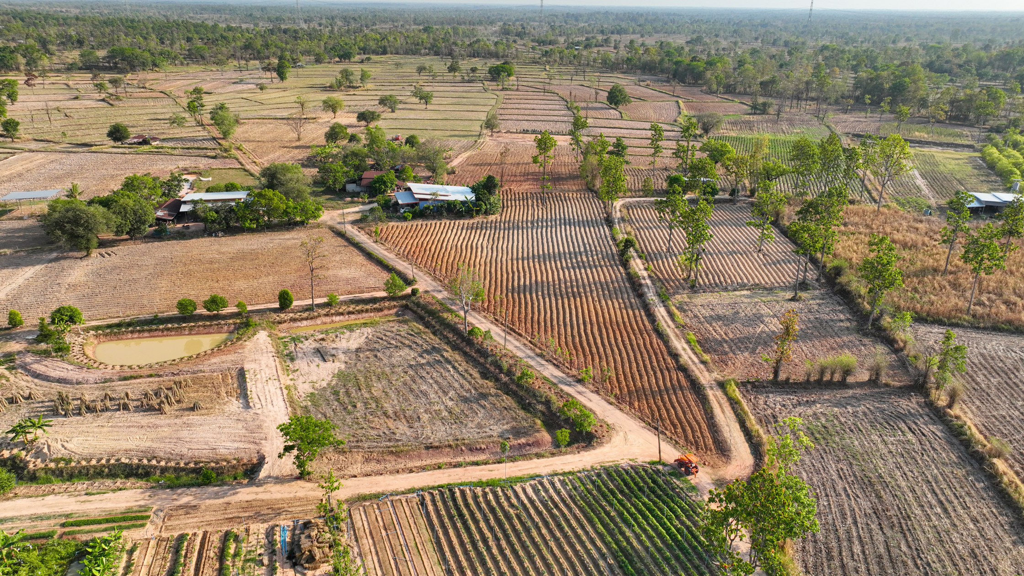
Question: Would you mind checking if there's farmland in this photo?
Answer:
Yes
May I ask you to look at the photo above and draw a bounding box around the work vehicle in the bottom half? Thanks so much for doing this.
[672,451,699,477]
